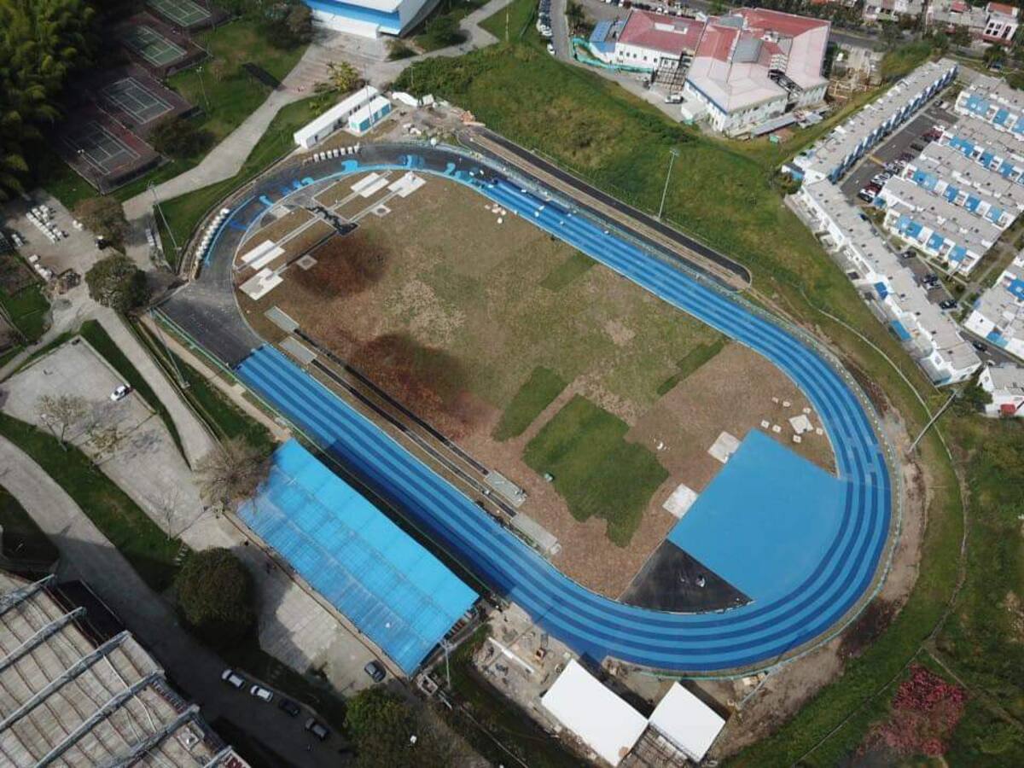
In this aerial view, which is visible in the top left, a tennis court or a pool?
tennis court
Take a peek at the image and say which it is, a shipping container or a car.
car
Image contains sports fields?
Yes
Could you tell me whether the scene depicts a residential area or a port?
residential area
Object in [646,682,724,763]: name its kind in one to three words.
tent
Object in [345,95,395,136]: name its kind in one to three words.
building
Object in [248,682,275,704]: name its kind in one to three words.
car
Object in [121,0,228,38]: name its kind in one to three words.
tennis court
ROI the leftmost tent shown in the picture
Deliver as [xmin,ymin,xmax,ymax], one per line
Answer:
[541,658,648,768]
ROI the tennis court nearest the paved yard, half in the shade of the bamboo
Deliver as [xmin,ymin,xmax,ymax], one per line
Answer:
[45,108,164,191]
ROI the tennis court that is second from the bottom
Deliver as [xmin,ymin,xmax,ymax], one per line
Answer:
[86,62,193,139]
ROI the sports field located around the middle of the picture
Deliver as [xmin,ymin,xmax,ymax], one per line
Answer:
[168,132,904,702]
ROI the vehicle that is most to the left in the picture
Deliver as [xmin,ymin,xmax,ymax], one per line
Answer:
[111,385,131,401]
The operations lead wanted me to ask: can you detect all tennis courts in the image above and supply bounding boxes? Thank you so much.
[86,62,193,139]
[99,13,203,81]
[121,0,228,38]
[45,108,164,191]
